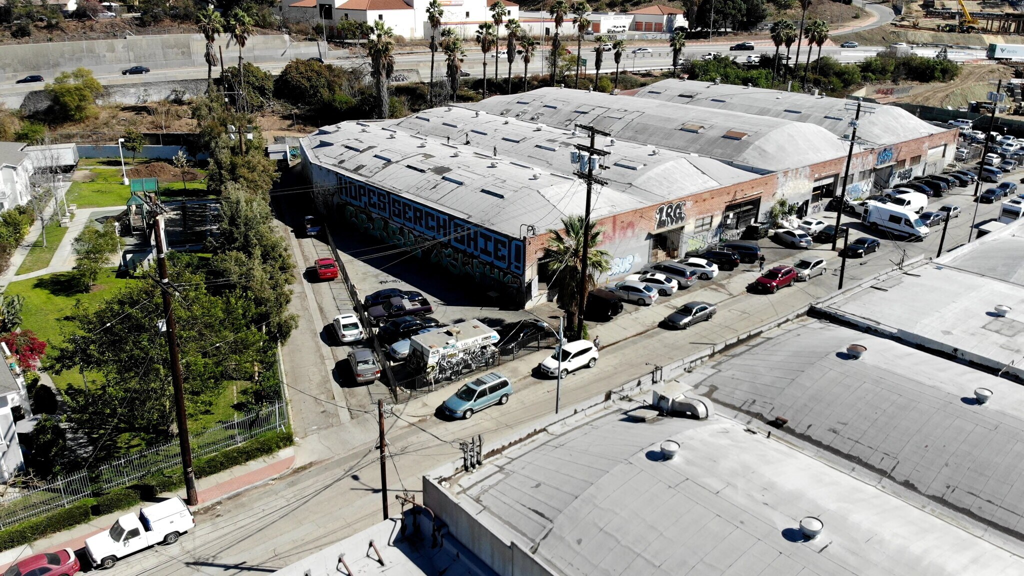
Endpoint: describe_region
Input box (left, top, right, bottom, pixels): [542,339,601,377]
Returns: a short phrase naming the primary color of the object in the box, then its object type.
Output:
white car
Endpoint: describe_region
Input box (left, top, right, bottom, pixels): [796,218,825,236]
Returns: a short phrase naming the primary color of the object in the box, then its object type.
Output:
white car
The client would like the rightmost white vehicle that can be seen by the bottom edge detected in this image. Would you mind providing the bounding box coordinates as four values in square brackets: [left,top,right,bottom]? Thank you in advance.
[79,489,192,568]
